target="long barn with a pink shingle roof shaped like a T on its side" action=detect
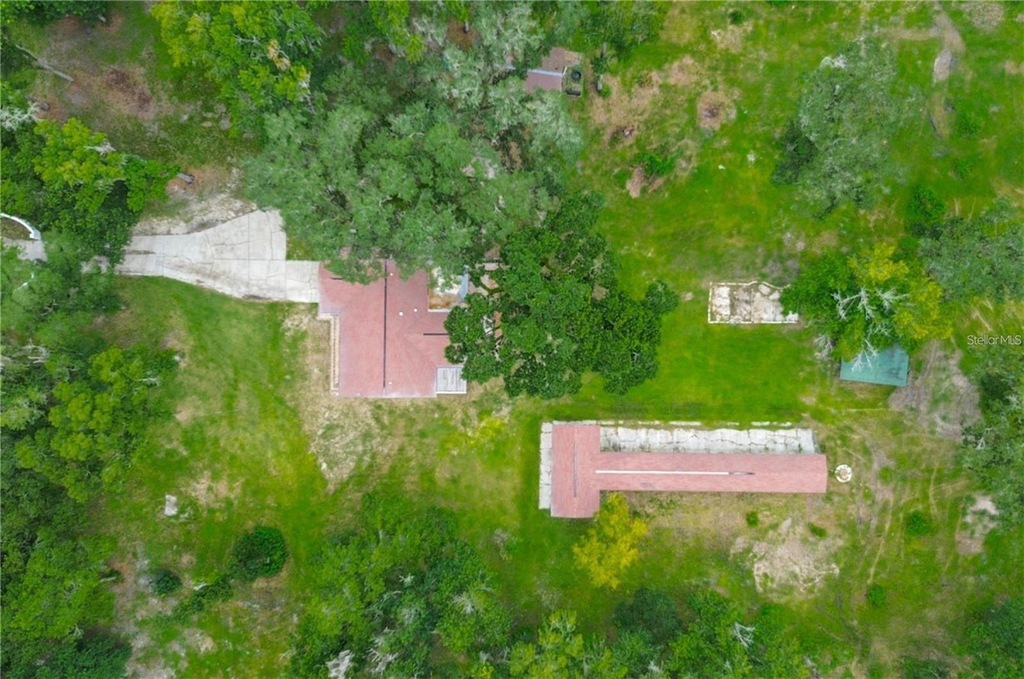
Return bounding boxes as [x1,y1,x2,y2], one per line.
[551,424,828,518]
